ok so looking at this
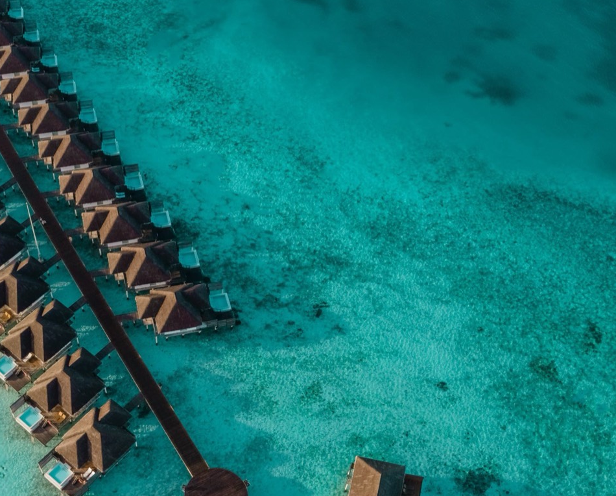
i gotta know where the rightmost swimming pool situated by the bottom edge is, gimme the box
[43,463,75,496]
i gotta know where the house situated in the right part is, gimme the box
[346,456,421,496]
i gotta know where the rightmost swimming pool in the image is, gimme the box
[207,292,229,313]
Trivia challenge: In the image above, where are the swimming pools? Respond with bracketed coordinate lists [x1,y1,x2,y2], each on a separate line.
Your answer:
[148,210,168,229]
[43,463,75,496]
[207,292,229,313]
[37,55,55,69]
[21,30,37,44]
[176,250,197,270]
[57,81,74,96]
[77,111,94,126]
[5,8,21,20]
[15,406,47,436]
[98,141,118,157]
[0,353,19,381]
[123,174,142,192]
